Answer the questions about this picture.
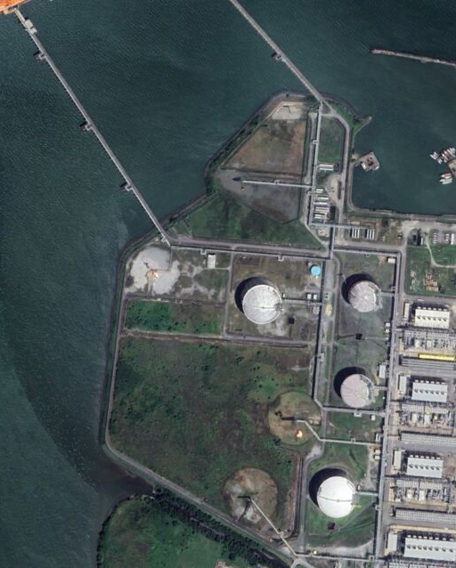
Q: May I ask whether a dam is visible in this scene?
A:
No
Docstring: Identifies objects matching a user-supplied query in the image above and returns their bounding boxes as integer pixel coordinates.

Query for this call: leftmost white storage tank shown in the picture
[240,276,285,322]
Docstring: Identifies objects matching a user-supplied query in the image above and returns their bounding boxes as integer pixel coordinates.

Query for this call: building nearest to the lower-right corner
[403,532,456,562]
